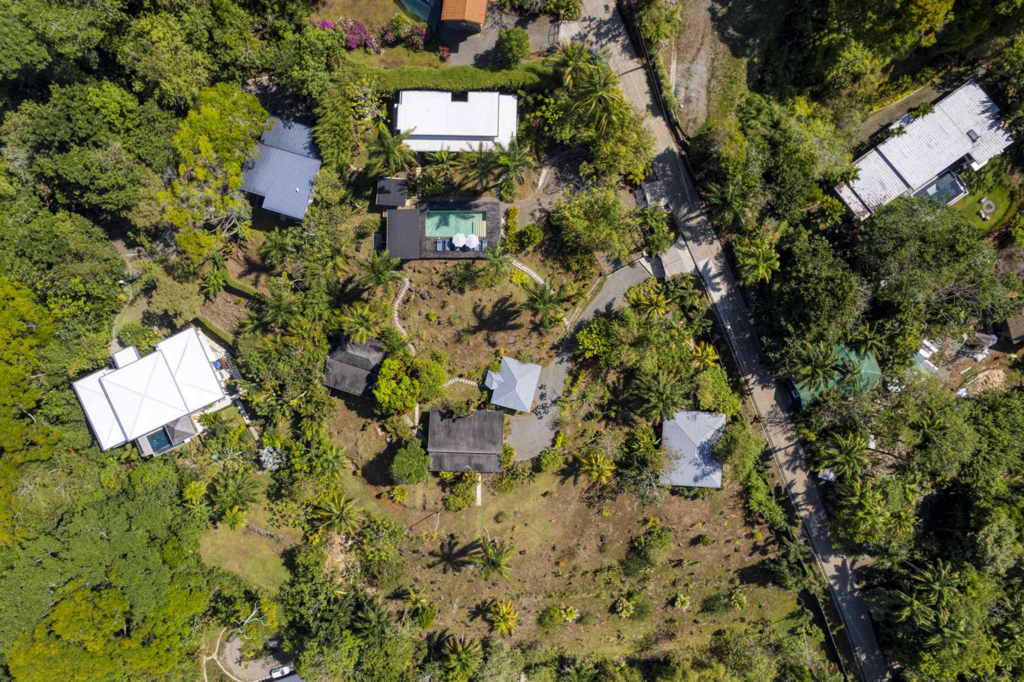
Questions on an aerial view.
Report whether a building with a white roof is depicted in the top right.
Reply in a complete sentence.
Yes, a building with a white roof shows up in the top right.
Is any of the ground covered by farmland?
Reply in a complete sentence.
No, the picture contains no farmland.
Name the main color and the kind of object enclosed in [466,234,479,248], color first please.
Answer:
white umbrella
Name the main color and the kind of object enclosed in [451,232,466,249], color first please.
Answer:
white umbrella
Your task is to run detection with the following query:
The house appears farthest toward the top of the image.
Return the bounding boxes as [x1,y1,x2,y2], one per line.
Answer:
[441,0,487,33]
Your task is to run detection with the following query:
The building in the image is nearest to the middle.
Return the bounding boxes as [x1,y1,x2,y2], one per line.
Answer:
[484,356,541,413]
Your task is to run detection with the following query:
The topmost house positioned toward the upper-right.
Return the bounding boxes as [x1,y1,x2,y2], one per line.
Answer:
[835,80,1013,220]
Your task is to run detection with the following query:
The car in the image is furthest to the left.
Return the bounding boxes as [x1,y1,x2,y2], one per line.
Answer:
[268,663,292,681]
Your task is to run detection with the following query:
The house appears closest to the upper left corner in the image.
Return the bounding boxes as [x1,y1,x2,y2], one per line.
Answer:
[243,116,321,218]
